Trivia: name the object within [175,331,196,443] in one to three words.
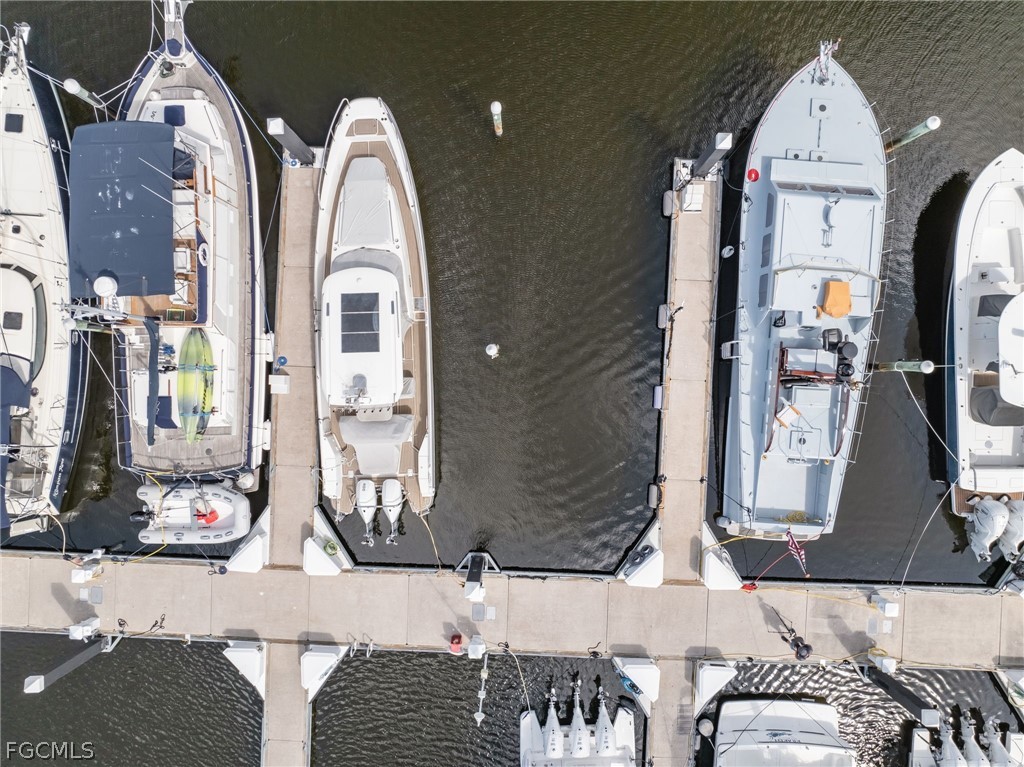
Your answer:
boat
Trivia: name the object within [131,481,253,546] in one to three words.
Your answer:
boat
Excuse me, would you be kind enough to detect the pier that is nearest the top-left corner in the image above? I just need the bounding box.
[269,162,325,565]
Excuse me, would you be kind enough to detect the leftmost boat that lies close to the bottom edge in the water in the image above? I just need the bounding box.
[519,673,637,767]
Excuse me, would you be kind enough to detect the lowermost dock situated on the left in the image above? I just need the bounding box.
[259,646,315,767]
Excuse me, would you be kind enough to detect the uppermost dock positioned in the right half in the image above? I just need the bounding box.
[653,162,724,582]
